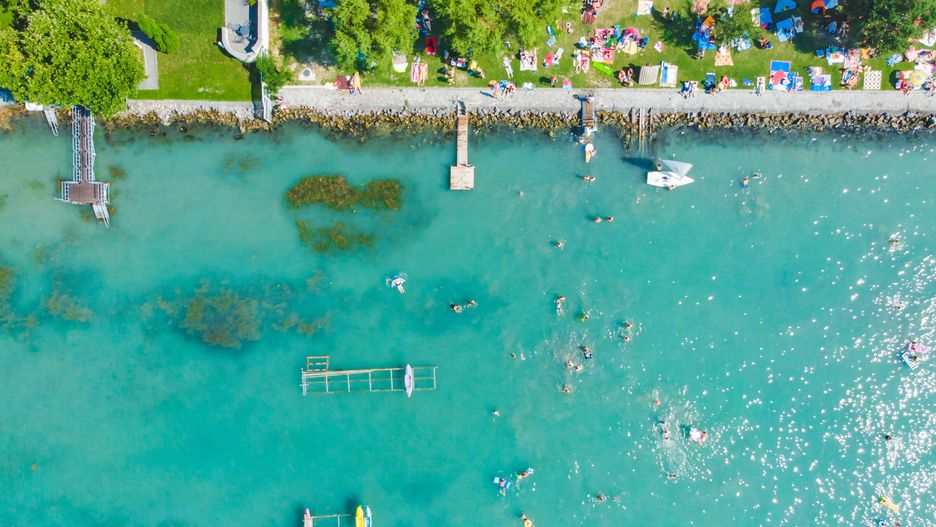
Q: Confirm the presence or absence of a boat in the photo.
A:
Yes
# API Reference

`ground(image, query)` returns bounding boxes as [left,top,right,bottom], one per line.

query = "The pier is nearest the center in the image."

[450,98,474,190]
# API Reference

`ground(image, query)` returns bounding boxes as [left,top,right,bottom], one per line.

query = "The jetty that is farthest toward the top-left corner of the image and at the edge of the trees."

[57,105,116,229]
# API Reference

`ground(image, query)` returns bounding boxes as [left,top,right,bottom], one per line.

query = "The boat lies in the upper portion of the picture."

[646,158,696,187]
